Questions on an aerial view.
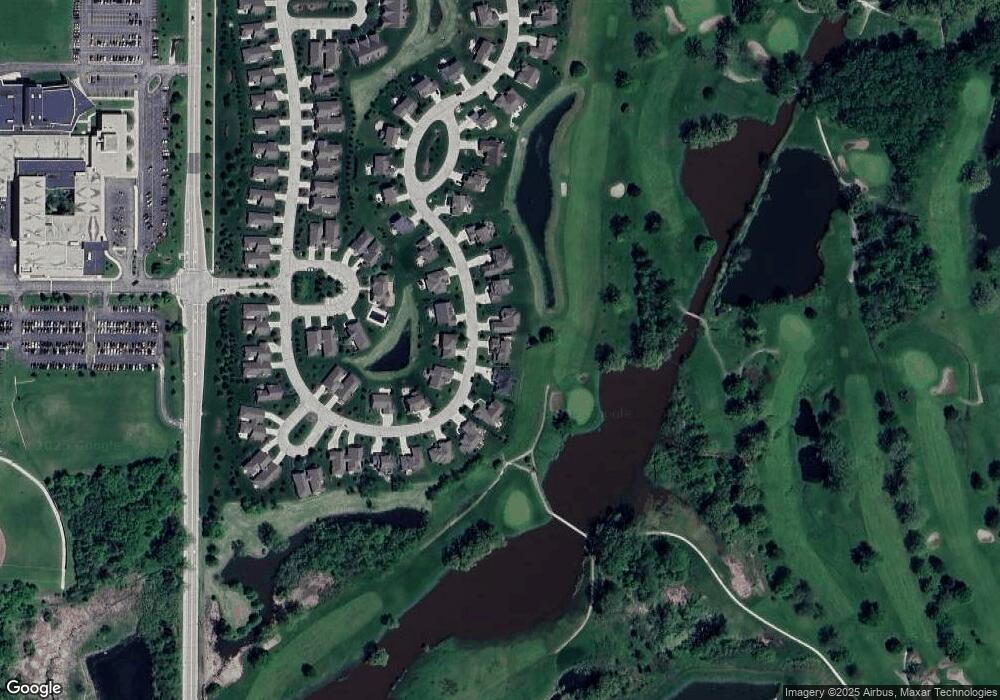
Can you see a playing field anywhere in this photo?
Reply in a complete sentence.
Yes, there's a playing field down there.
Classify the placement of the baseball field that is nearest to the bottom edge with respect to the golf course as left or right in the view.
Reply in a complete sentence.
It is on the left side of the golf course that the baseball field that is nearest to the bottom edge is positioned.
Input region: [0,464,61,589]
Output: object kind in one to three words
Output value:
baseball field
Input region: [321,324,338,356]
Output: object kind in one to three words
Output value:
house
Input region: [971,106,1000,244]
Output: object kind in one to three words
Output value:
pond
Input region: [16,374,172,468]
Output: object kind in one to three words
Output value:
sports field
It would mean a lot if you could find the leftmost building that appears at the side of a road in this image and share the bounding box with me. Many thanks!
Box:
[0,78,127,277]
